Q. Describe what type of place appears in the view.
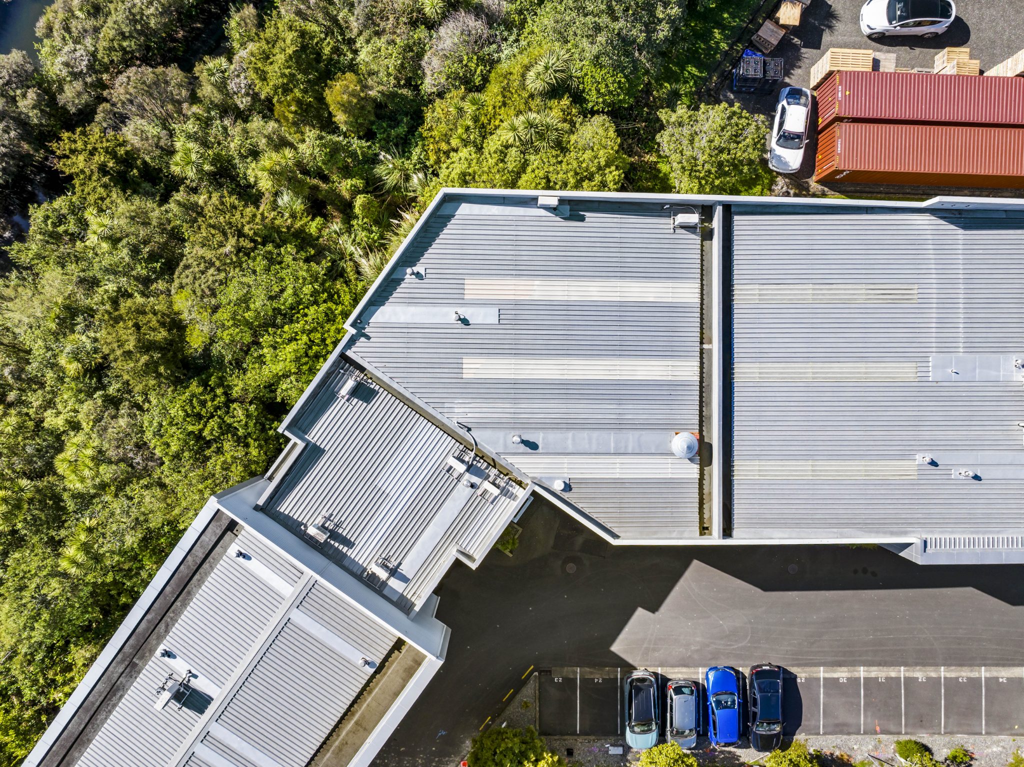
industrial area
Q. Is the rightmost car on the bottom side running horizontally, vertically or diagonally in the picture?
vertically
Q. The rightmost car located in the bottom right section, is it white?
No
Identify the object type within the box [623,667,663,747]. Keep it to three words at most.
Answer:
car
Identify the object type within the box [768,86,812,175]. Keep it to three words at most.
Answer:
car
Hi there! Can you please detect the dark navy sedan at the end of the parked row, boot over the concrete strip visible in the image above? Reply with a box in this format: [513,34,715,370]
[746,661,789,749]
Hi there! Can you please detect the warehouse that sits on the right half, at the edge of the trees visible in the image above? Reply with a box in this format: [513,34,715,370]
[344,188,1024,565]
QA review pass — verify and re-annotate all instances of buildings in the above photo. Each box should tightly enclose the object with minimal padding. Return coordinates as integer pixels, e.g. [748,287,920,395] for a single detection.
[21,477,460,767]
[344,188,1024,565]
